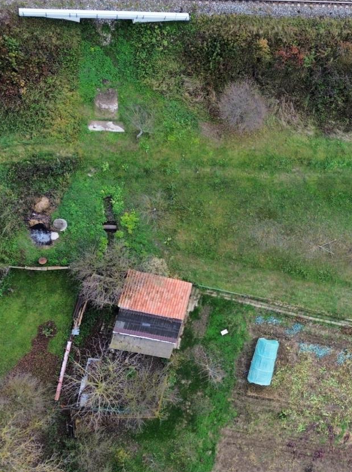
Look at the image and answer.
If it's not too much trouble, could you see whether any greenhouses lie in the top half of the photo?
No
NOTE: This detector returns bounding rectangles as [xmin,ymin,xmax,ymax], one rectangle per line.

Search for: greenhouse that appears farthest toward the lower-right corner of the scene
[242,337,277,388]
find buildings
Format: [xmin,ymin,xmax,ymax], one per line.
[109,270,205,359]
[242,337,277,388]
